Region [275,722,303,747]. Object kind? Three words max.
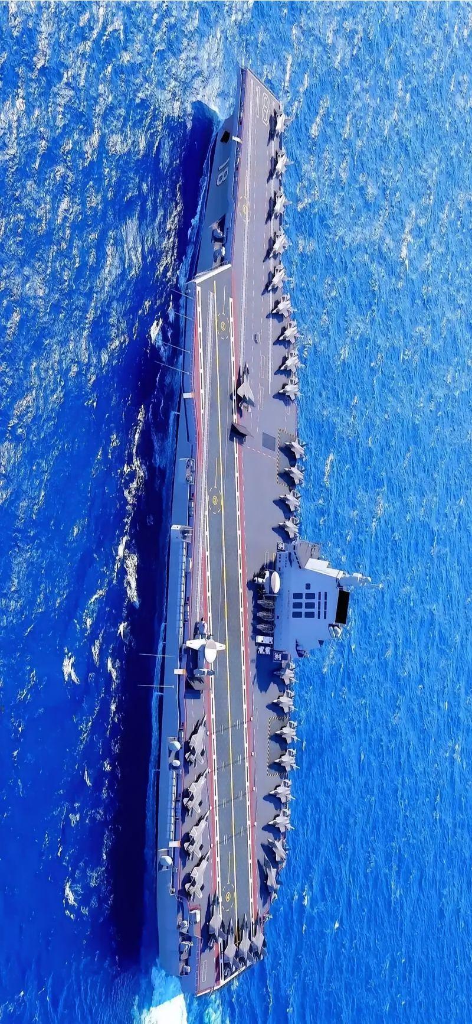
airplane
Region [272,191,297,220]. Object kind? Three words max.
airplane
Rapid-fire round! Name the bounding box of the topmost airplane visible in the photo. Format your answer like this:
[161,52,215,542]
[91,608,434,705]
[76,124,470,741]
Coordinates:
[273,109,296,139]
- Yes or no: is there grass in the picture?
No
